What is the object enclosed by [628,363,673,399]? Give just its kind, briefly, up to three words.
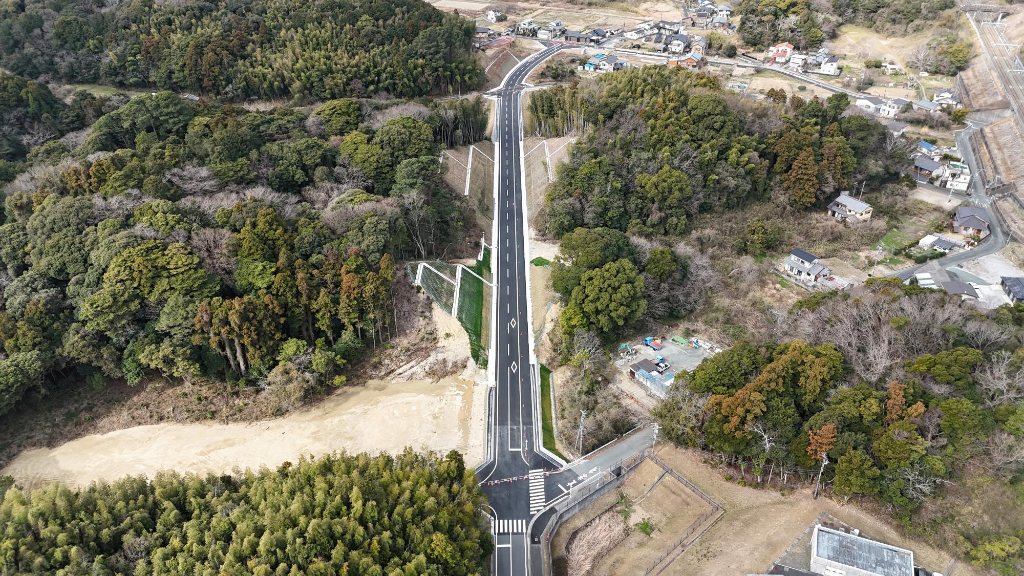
shed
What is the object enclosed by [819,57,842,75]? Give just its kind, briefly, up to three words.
house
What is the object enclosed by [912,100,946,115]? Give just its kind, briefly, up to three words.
house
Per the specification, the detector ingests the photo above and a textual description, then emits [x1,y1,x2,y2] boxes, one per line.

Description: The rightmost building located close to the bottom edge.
[810,520,917,576]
